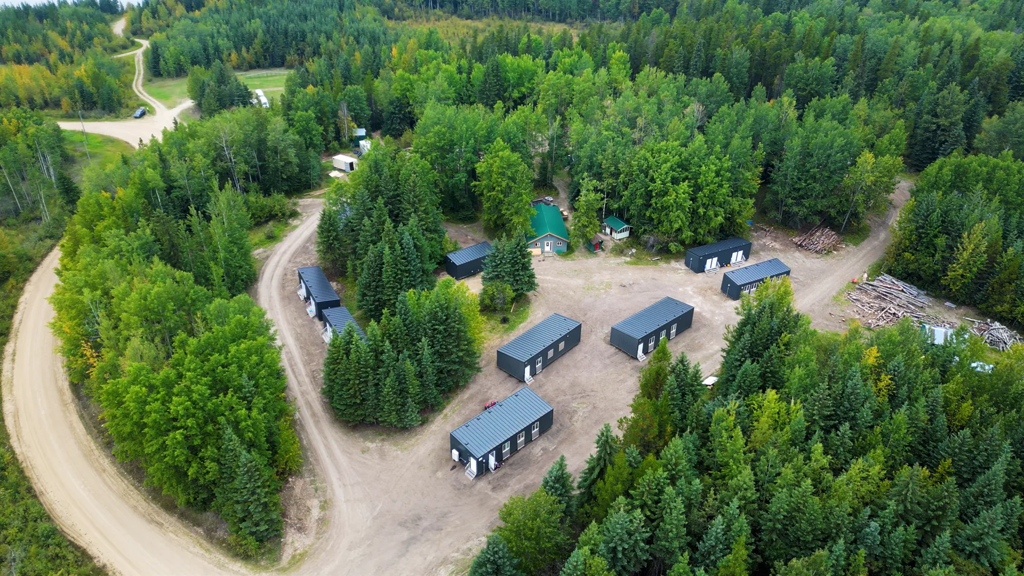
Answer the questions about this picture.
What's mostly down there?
trees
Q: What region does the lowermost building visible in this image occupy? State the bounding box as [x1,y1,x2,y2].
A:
[448,387,555,483]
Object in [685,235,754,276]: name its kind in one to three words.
building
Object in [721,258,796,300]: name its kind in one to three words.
building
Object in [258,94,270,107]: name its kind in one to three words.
vehicle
